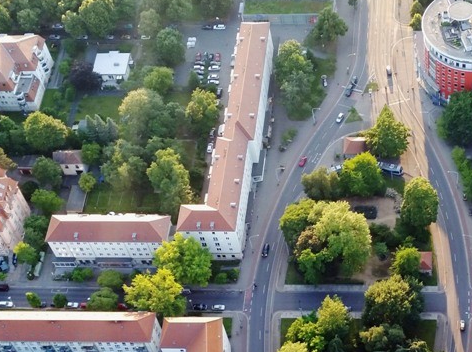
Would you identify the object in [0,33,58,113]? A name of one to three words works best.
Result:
house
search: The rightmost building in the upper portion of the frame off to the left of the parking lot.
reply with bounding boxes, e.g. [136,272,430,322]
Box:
[95,53,131,83]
